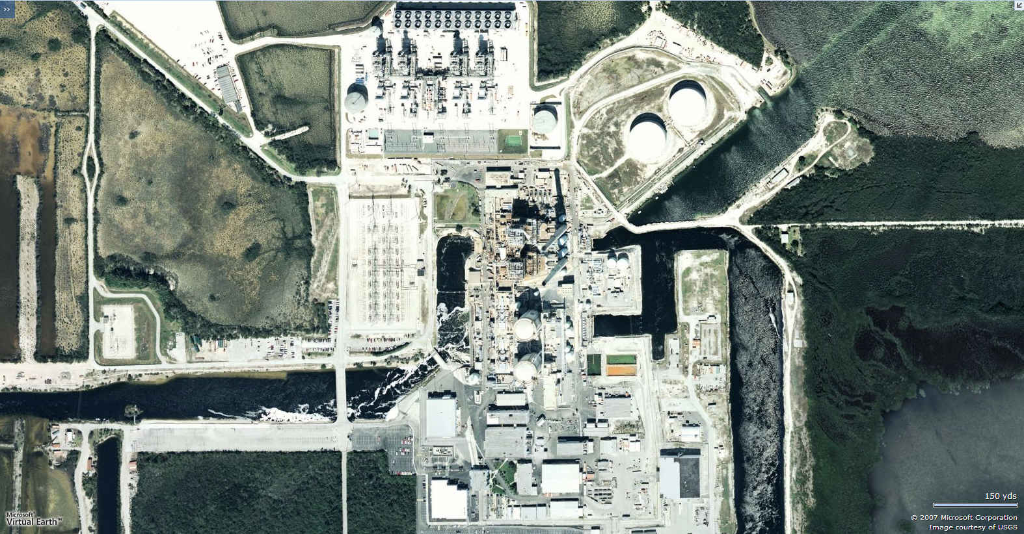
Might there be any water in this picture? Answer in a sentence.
Yes, water can be seen from above here.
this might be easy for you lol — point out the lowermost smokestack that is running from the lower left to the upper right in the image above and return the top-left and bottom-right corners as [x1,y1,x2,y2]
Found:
[542,254,572,286]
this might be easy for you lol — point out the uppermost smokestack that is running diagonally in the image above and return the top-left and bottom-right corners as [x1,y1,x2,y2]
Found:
[542,220,572,251]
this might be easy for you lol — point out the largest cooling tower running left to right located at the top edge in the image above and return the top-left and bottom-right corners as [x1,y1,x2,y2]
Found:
[393,8,521,29]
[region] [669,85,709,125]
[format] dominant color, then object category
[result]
white storage tank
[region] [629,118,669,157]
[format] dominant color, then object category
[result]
white storage tank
